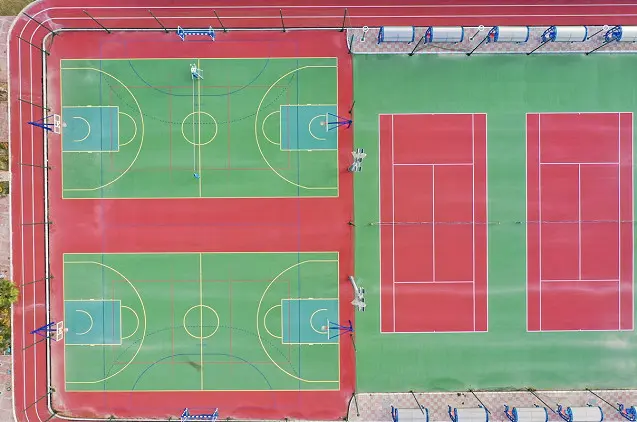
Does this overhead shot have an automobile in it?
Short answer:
No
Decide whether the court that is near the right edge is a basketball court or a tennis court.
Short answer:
tennis court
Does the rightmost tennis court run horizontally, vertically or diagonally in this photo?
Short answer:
vertically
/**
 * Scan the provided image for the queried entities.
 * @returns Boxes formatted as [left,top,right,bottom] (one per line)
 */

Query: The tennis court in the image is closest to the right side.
[526,111,634,332]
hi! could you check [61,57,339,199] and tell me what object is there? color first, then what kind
green basketball court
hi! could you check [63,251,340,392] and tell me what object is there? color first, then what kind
green basketball court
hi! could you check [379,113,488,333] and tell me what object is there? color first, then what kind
red tennis court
